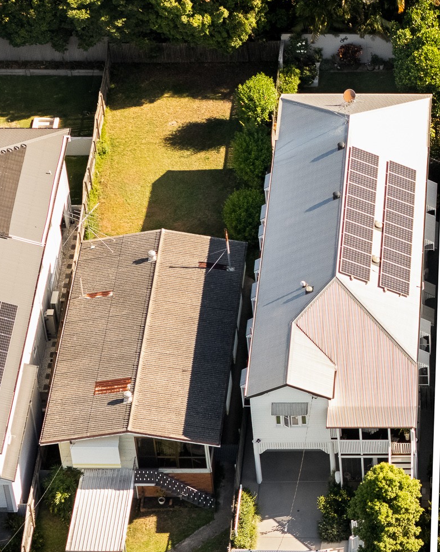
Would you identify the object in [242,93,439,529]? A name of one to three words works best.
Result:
house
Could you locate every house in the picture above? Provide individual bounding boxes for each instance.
[242,93,439,529]
[0,134,70,512]
[40,228,248,506]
